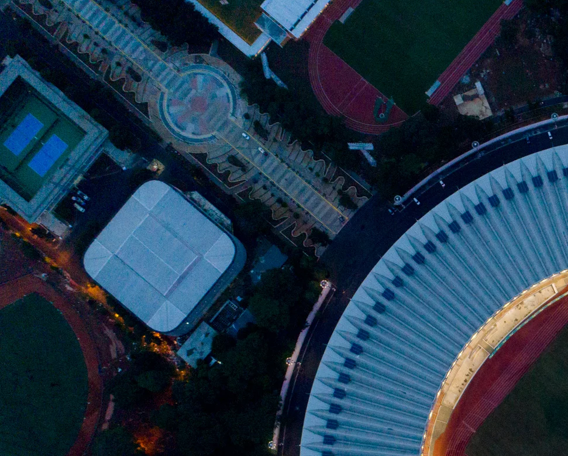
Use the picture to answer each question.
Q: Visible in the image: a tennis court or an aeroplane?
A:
tennis court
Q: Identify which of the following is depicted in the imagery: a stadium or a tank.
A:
stadium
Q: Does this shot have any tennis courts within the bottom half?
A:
No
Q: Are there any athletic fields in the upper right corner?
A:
Yes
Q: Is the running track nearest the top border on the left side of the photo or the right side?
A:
right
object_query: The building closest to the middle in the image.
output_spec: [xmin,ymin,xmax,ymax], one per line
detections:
[249,243,290,286]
